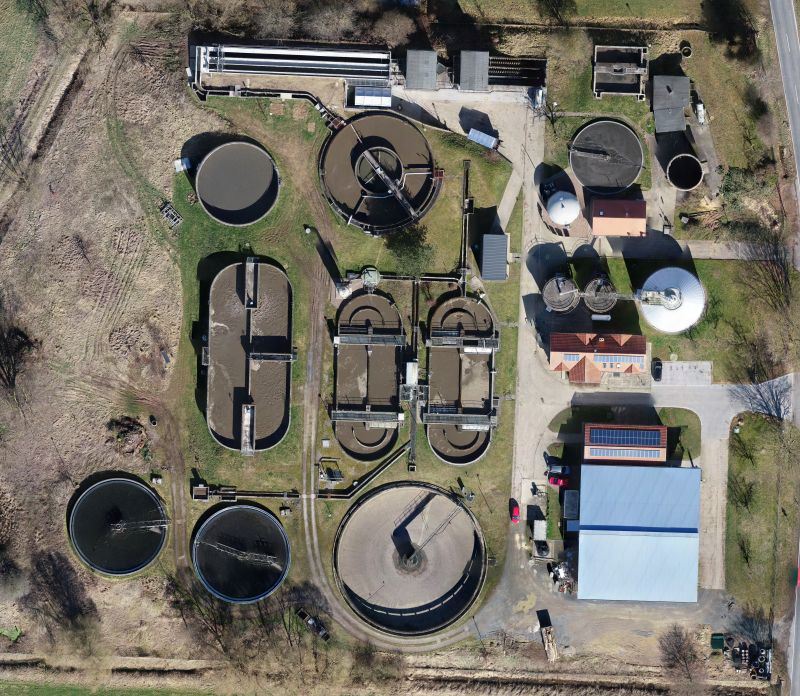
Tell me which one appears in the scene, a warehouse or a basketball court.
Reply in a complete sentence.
I can see a warehouse in this picture.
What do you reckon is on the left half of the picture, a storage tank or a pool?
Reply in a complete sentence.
It is a storage tank that can be seen on the left half of the picture.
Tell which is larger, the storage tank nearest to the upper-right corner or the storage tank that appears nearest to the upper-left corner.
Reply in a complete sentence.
The storage tank that appears nearest to the upper-left corner takes up more space than the storage tank nearest to the upper-right corner.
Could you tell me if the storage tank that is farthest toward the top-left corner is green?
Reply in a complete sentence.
No, the storage tank that is farthest toward the top-left corner is actually gray.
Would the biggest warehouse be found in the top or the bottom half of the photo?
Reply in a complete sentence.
The biggest warehouse sits in the bottom half of the picture.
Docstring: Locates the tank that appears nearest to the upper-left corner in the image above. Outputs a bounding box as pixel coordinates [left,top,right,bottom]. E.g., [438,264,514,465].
[195,141,280,226]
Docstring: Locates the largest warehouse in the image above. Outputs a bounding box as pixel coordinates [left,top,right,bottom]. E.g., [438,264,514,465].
[566,464,702,602]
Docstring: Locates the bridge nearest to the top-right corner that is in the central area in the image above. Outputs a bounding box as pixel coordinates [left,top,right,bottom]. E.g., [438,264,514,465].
[426,334,498,355]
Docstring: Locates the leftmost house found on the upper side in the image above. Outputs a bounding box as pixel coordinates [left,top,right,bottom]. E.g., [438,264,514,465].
[406,50,436,89]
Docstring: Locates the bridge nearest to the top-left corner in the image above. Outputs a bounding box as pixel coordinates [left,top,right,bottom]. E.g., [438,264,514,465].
[245,257,258,309]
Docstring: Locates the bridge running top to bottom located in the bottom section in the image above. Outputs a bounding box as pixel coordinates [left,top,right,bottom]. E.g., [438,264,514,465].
[241,404,255,456]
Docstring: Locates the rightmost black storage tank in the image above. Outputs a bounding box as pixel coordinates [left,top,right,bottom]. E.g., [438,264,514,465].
[667,154,709,191]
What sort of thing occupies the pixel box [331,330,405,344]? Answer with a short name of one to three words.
bridge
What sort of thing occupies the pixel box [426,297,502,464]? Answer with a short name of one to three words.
storage tank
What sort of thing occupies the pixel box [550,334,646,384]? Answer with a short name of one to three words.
house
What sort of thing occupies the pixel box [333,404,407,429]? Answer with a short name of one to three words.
bridge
